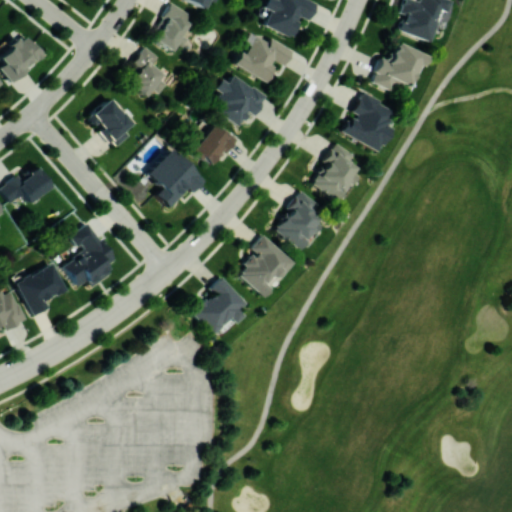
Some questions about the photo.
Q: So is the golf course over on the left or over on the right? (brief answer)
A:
right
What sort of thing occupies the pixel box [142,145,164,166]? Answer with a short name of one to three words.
swimming pool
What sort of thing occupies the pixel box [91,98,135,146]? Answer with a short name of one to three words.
house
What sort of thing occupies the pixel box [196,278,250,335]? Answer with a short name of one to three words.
house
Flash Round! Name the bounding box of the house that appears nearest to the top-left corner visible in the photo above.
[0,36,46,79]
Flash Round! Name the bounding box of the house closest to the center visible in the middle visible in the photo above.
[237,234,296,297]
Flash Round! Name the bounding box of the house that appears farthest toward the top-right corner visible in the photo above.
[402,0,454,40]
